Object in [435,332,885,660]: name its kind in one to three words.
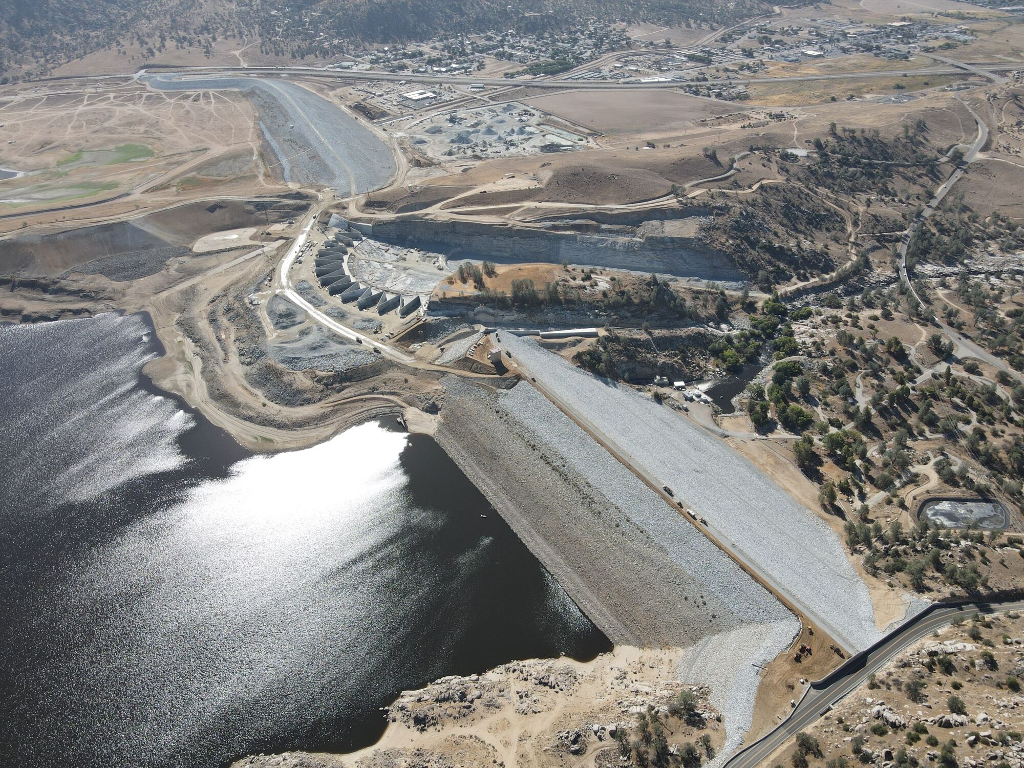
dam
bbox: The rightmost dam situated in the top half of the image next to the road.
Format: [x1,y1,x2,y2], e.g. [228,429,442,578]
[315,228,424,317]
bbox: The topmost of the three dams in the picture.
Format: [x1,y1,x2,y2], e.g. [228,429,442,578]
[146,74,397,197]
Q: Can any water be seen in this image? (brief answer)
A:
Yes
